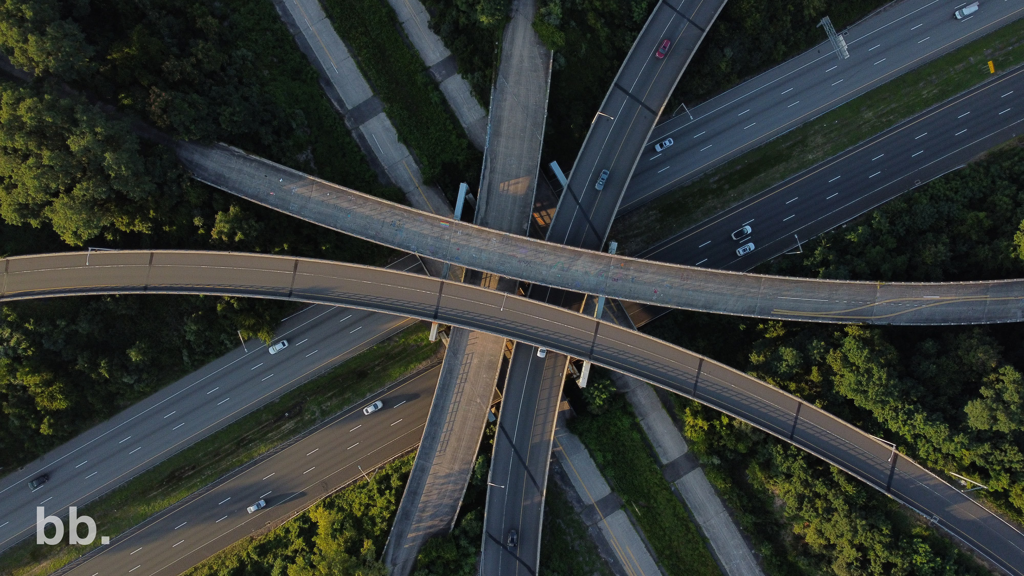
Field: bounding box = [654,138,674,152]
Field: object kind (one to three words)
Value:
car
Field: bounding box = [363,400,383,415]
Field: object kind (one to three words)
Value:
car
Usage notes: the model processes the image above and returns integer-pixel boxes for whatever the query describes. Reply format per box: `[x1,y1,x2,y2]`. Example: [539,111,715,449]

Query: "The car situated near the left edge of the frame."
[29,474,49,489]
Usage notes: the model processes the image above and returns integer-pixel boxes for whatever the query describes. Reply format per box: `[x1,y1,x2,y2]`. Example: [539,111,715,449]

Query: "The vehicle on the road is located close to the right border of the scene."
[953,2,981,20]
